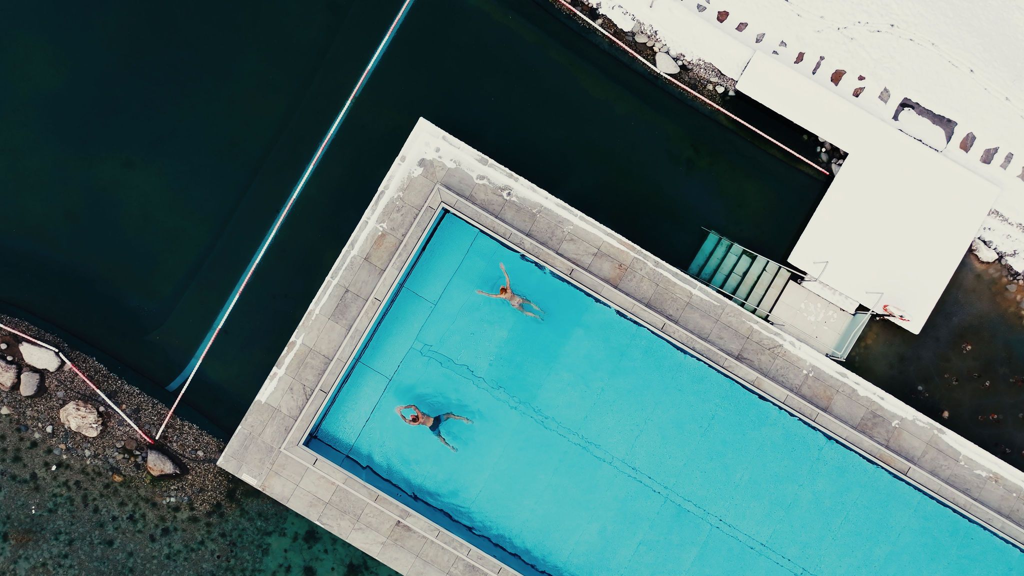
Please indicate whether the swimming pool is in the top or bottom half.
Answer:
bottom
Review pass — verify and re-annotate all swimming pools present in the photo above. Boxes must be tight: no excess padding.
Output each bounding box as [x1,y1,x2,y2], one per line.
[305,207,1024,576]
